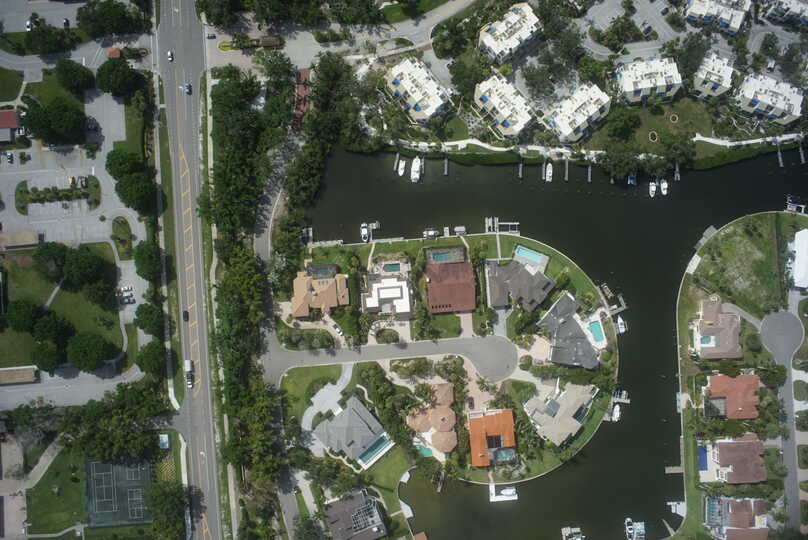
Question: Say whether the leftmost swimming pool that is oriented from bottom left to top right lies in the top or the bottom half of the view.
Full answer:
The leftmost swimming pool that is oriented from bottom left to top right sits in the bottom half of the picture.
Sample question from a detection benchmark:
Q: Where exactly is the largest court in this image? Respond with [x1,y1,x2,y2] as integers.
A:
[84,458,152,527]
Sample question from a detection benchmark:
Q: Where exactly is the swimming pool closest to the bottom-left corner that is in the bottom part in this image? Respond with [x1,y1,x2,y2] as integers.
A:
[357,433,395,470]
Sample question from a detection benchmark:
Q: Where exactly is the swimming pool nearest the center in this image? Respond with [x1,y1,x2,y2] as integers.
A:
[370,259,410,282]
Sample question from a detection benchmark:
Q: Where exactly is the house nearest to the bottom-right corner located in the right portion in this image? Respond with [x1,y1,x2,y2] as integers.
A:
[725,497,769,540]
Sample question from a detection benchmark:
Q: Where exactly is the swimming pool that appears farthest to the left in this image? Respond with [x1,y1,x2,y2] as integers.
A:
[308,261,338,276]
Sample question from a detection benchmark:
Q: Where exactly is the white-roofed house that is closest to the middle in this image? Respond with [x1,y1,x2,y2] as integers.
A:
[366,279,410,313]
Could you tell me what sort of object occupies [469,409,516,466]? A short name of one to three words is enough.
house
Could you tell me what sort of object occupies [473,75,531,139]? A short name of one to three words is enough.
building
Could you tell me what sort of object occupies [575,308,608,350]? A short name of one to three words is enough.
swimming pool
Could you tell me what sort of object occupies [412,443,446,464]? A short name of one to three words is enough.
swimming pool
